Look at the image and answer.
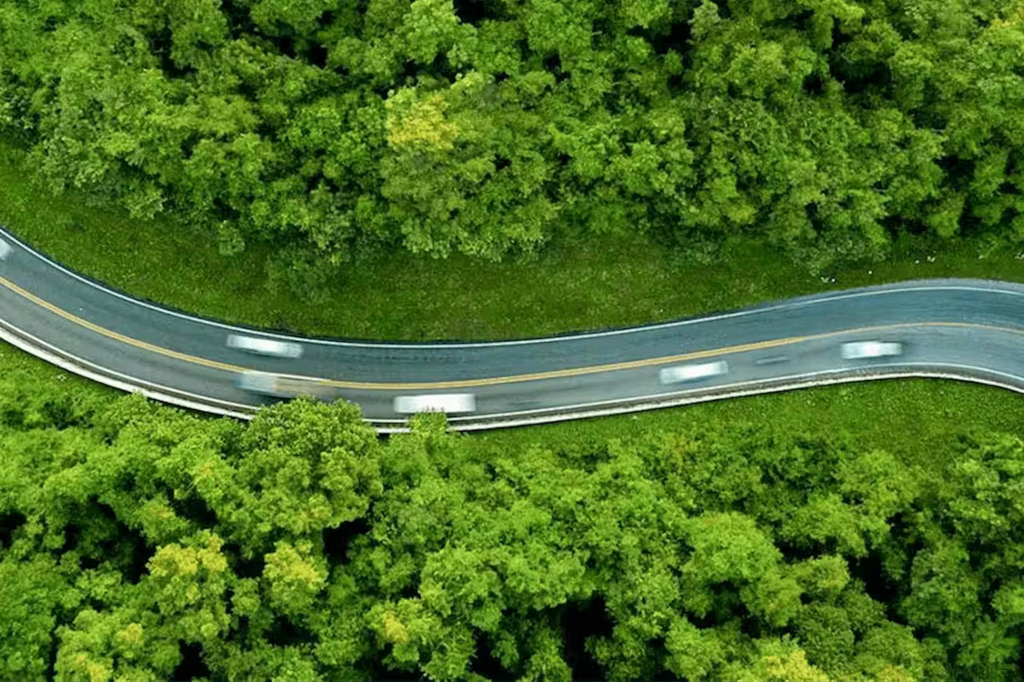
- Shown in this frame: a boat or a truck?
truck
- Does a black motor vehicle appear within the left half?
No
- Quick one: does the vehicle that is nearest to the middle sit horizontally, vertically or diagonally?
horizontally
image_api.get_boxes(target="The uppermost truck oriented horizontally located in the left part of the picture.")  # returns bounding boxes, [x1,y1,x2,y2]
[235,334,296,359]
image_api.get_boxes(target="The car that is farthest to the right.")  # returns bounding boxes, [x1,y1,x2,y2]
[842,340,899,361]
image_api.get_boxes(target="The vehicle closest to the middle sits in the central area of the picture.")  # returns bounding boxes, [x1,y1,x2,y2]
[397,394,473,417]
